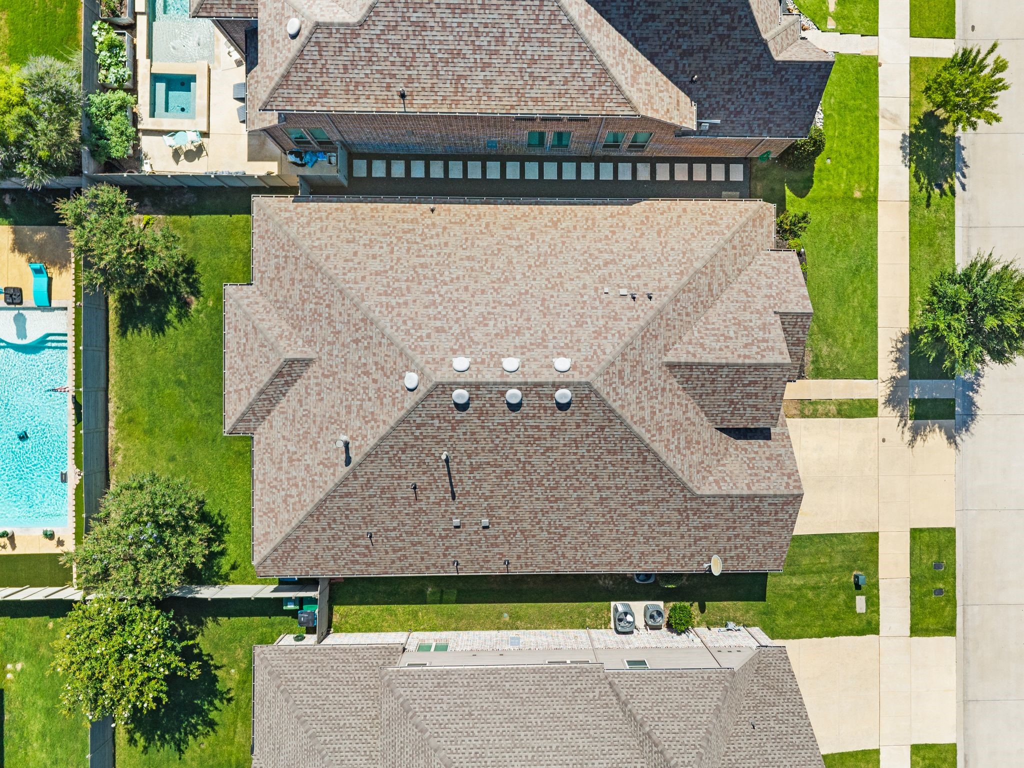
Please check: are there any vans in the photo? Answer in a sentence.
No, the photo shows no van.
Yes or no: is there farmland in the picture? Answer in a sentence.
No, farmland can't be seen anywhere here.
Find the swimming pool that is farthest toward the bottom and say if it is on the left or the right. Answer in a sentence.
It is on the left.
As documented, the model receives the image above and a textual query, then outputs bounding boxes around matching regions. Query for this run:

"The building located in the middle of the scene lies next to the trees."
[221,194,811,578]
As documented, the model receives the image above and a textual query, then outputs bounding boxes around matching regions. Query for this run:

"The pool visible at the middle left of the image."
[0,298,73,536]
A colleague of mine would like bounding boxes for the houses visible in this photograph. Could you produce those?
[186,0,834,162]
[249,621,822,768]
[221,194,811,578]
